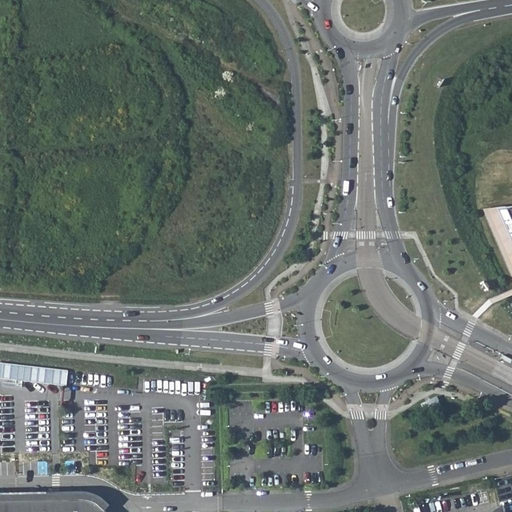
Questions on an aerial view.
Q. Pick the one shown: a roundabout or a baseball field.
roundabout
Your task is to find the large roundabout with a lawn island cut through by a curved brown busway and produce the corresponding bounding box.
[297,250,439,392]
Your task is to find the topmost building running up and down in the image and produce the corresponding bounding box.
[484,206,512,276]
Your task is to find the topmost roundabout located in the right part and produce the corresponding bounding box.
[314,0,412,58]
